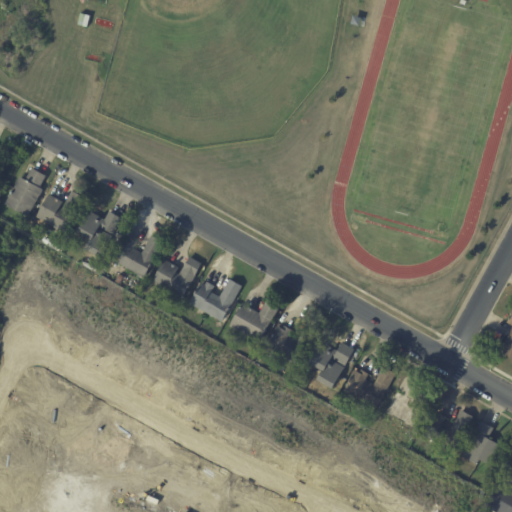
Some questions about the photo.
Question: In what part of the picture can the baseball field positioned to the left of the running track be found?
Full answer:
The baseball field positioned to the left of the running track is in the top part of the image.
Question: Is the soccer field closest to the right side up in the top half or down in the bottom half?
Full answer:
The soccer field closest to the right side sits in the top half of the picture.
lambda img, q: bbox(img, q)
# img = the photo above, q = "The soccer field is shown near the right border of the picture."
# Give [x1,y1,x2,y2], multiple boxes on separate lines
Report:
[356,0,507,226]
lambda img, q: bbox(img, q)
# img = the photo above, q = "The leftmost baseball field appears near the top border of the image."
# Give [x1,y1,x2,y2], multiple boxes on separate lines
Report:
[101,0,338,146]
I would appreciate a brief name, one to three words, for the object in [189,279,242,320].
house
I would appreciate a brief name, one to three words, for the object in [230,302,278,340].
house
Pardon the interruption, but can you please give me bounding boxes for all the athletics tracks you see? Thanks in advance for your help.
[332,0,512,278]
